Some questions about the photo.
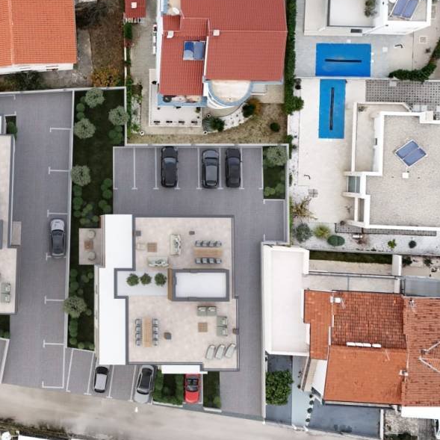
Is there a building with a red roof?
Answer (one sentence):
Yes, the frame does contain a building with a red roof.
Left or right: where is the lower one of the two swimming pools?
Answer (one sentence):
The lower one of the two swimming pools appears in the right half of the scene.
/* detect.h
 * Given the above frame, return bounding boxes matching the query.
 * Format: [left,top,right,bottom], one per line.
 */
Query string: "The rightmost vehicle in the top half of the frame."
[224,148,243,188]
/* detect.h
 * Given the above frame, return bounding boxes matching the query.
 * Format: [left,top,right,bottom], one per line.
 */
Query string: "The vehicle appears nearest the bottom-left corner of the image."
[93,365,111,394]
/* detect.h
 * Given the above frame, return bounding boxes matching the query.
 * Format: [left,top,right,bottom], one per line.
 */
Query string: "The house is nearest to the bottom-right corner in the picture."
[260,246,440,418]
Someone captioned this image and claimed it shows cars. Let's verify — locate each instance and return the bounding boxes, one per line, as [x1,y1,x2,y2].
[133,364,154,404]
[48,217,67,258]
[201,148,221,188]
[433,418,440,440]
[224,148,243,188]
[93,365,111,394]
[183,373,202,405]
[161,147,181,188]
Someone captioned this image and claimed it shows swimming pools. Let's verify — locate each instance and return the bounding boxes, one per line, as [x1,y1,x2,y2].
[315,76,348,141]
[312,40,373,78]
